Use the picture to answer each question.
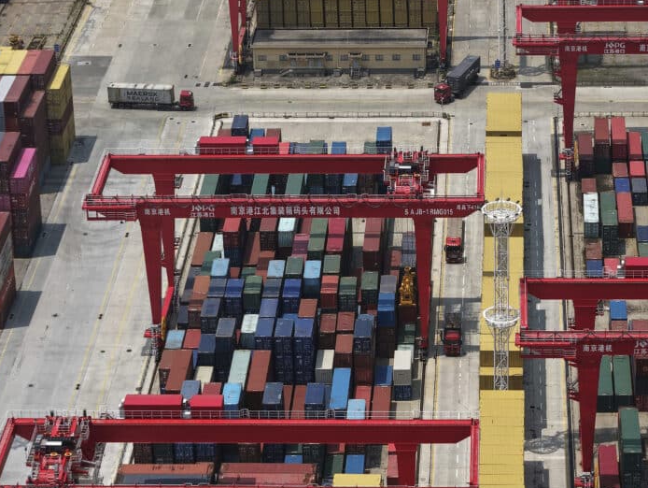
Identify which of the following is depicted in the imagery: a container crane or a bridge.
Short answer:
container crane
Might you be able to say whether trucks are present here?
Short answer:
Yes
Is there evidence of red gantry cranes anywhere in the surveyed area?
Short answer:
Yes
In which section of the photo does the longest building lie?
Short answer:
top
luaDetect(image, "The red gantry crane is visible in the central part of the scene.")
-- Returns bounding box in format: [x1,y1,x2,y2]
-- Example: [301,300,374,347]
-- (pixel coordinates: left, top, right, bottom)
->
[82,133,490,355]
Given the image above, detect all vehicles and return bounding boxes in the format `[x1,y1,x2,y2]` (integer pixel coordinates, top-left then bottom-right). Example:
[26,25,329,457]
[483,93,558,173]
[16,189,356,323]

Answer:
[447,219,465,254]
[436,65,483,101]
[104,86,196,106]
[443,297,464,352]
